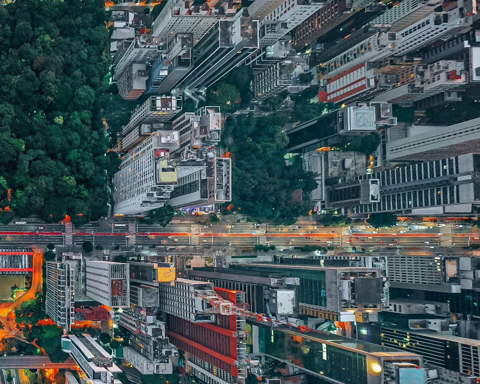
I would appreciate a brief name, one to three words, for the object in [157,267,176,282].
helipad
